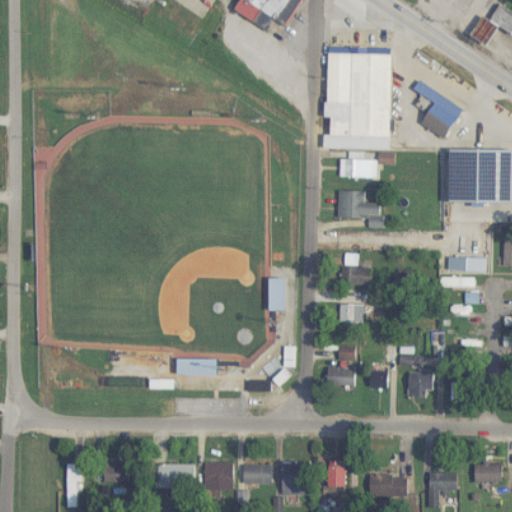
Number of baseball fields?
1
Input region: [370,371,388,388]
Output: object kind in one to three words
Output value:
house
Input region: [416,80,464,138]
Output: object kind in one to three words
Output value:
building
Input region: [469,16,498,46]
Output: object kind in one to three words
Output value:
shed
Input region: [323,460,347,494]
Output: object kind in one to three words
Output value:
house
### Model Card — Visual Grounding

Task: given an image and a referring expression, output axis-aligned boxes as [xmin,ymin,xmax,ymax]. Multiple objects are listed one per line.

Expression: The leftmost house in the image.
[66,464,86,508]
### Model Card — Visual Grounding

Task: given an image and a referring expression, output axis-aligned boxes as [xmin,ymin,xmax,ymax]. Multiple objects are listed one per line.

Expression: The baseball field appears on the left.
[34,116,272,367]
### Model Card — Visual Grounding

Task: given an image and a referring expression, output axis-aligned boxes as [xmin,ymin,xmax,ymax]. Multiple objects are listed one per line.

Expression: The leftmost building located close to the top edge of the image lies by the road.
[240,0,309,34]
